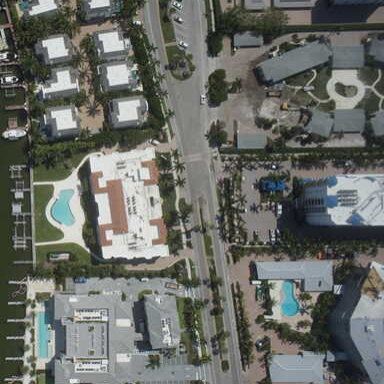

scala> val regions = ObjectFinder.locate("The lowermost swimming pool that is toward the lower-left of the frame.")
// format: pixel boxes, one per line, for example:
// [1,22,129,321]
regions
[37,306,55,360]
